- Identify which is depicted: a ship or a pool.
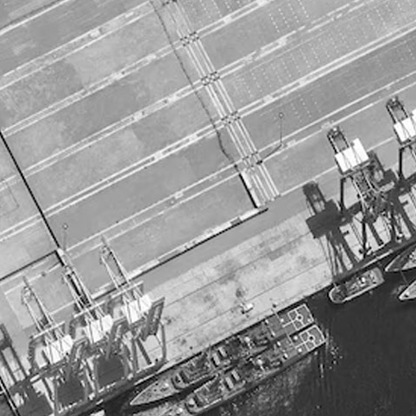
ship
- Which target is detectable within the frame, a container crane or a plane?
container crane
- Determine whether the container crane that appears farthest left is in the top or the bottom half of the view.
bottom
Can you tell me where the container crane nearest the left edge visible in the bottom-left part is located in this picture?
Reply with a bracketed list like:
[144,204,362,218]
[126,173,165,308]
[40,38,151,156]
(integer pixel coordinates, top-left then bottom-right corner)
[11,277,88,416]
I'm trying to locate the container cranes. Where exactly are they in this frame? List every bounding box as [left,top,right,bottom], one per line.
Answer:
[324,127,401,259]
[11,277,88,416]
[384,94,416,199]
[53,256,129,397]
[93,235,168,378]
